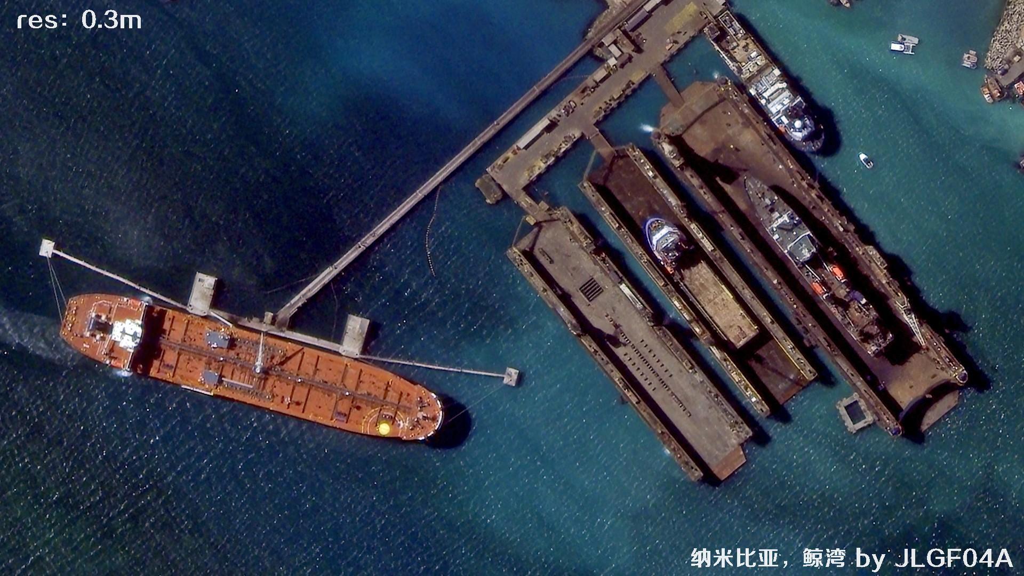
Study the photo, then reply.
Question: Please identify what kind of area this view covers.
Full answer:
It's a port.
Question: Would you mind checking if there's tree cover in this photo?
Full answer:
No, the picture contains no tree cover.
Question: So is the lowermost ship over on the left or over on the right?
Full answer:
The lowermost ship appears in the left half of the scene.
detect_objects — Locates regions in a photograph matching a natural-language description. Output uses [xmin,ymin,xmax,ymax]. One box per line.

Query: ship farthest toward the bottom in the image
[60,293,443,441]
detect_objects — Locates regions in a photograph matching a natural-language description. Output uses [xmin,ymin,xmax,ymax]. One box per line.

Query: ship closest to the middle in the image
[474,173,503,204]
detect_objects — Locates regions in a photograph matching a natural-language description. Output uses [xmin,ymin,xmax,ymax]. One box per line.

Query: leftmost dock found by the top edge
[485,0,727,223]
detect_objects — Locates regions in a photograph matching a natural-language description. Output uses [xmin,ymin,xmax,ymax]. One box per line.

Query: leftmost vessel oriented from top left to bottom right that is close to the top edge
[703,11,823,151]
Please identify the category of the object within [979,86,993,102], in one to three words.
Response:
boat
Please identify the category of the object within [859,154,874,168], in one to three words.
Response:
boat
